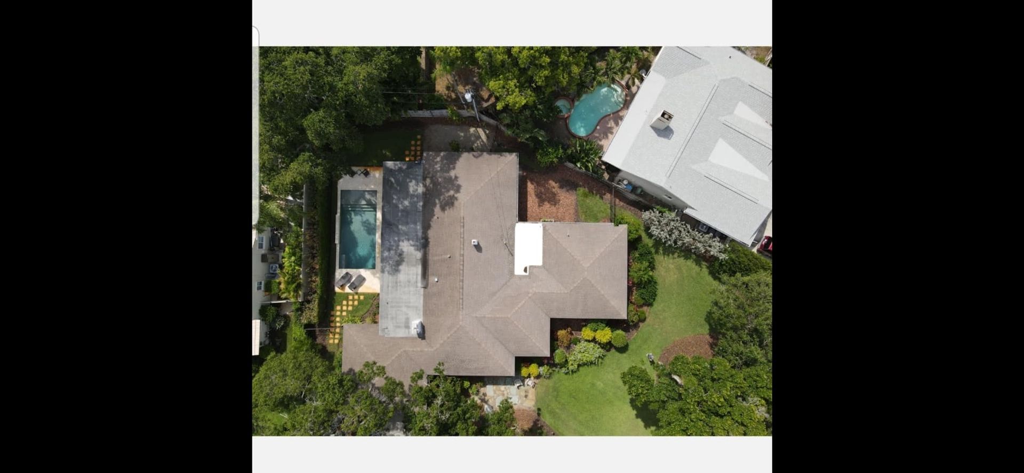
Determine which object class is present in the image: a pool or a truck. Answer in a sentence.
The one in the frame is a pool.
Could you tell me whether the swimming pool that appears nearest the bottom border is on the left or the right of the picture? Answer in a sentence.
The swimming pool that appears nearest the bottom border sits on the left side.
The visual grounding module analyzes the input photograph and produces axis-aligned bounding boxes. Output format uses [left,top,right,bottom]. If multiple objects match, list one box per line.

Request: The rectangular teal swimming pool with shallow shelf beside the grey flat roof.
[334,187,380,272]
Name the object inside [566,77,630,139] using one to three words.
swimming pool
